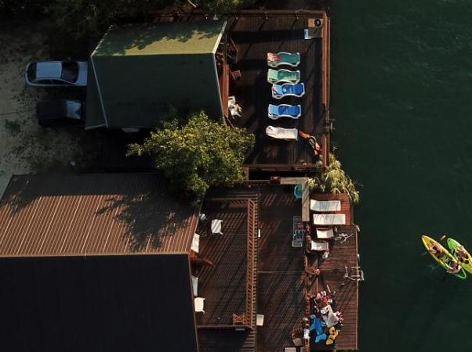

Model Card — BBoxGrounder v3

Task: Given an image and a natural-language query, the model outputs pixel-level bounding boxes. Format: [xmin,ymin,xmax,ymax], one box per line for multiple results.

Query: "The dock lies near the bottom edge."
[308,227,360,349]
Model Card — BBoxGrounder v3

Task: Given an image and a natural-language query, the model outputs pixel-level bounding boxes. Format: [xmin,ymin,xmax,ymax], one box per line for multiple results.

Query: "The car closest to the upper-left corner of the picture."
[24,57,90,90]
